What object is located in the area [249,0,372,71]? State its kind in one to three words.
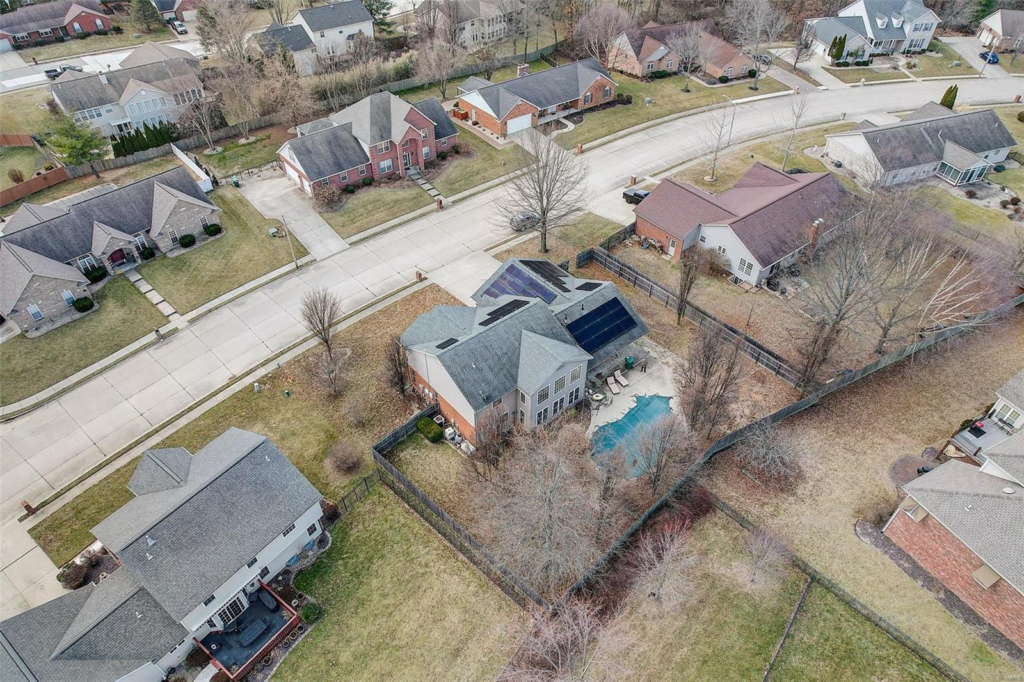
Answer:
house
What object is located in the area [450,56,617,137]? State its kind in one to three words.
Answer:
house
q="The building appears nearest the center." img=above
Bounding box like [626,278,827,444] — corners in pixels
[398,257,651,450]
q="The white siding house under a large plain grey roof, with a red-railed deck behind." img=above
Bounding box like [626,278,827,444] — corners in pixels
[0,428,324,682]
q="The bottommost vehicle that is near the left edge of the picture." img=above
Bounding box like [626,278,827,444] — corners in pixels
[45,63,79,77]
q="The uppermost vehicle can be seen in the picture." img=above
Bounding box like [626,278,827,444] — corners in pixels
[171,20,186,33]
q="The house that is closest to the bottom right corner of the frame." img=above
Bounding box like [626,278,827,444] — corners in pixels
[882,376,1024,667]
